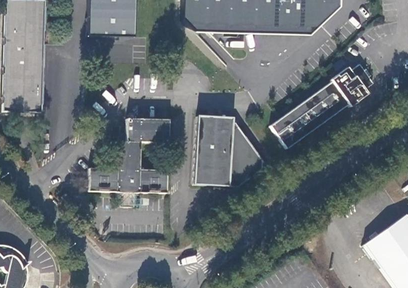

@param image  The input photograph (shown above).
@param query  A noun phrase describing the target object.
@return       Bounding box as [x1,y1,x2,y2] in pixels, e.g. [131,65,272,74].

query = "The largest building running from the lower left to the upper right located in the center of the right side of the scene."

[268,80,351,150]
